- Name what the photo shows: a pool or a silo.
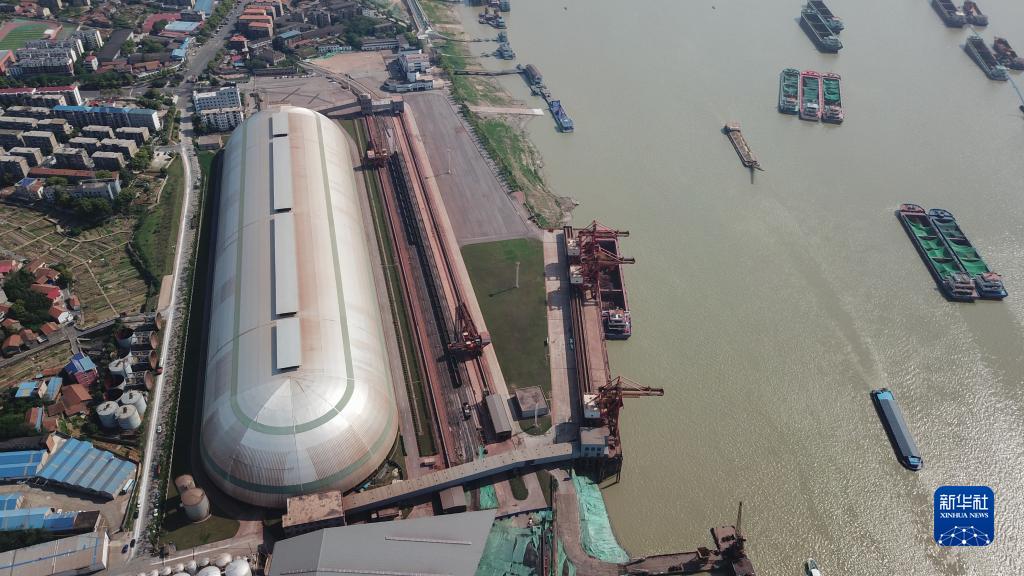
silo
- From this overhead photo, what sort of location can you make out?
port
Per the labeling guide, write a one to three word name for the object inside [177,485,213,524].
silo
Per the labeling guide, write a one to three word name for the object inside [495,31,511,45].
boat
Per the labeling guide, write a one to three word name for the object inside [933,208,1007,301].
ship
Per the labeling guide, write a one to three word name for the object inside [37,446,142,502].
building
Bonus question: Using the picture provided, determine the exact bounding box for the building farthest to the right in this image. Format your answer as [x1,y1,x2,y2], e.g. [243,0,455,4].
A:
[582,425,608,459]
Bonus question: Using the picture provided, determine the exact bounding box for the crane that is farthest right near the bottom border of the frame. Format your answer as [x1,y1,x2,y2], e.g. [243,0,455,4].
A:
[700,494,768,576]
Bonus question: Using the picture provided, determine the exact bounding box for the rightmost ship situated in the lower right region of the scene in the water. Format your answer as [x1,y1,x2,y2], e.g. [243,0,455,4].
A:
[870,388,921,474]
